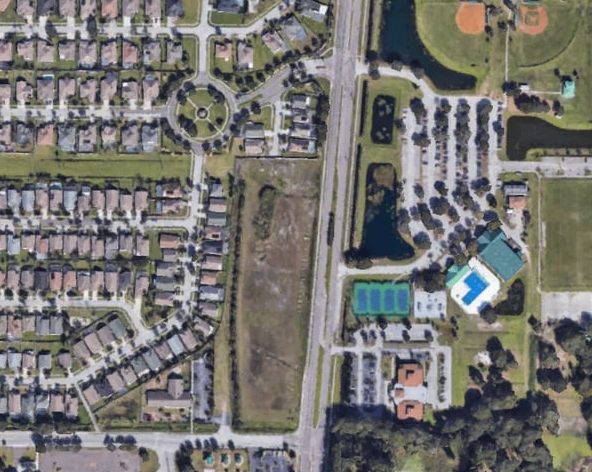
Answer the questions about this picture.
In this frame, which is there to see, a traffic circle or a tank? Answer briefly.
traffic circle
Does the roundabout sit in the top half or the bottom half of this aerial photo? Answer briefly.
top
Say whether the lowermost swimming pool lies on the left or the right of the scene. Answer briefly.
right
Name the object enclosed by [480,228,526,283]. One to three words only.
building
